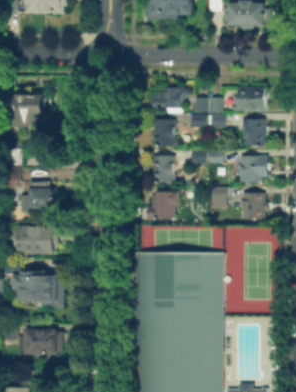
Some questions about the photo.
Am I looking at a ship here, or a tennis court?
tennis court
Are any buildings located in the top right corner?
Yes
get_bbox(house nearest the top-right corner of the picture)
[227,0,271,29]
